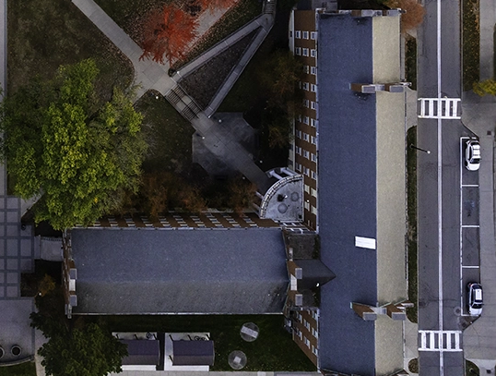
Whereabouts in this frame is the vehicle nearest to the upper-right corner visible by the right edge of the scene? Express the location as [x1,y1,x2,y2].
[463,138,482,171]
